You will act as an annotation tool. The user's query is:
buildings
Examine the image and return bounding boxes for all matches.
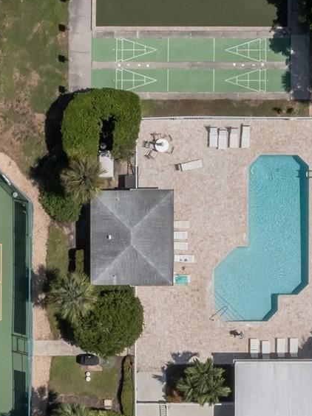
[90,188,174,287]
[235,361,312,416]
